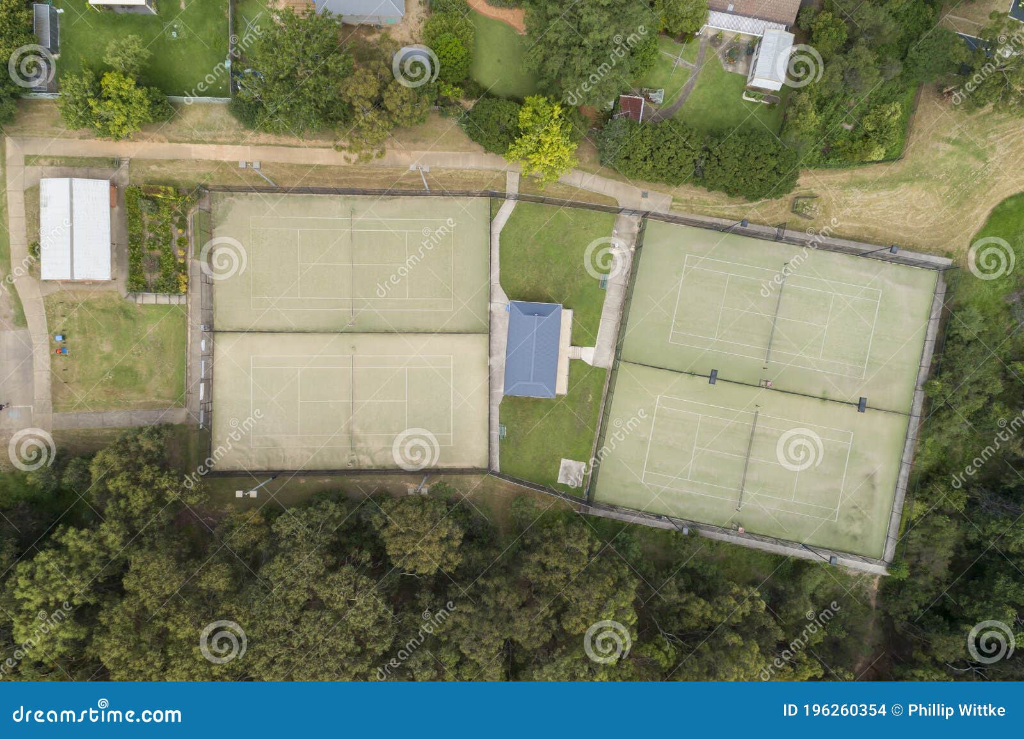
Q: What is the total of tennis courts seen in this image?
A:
four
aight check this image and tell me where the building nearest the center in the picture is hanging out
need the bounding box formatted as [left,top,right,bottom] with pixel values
[503,300,584,399]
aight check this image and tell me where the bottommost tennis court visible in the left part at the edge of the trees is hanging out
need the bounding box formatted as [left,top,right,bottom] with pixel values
[211,331,490,472]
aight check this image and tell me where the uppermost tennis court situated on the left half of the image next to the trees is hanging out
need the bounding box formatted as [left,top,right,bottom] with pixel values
[212,194,490,333]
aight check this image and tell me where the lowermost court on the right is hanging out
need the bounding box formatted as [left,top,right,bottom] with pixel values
[590,360,911,559]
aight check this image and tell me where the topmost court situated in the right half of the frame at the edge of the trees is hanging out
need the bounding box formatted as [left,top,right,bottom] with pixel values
[615,218,939,414]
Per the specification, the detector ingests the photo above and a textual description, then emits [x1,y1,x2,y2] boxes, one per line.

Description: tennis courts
[211,331,490,472]
[615,218,939,414]
[590,360,911,559]
[212,194,490,333]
